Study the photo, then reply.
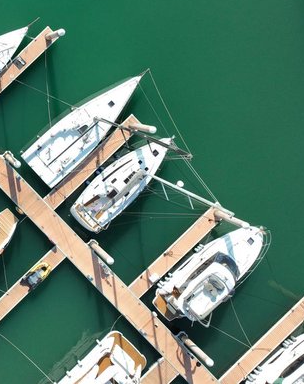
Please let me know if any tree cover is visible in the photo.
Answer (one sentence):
No, the scene doesn't show any tree cover.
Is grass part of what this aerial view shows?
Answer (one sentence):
No, there is no grass in the image.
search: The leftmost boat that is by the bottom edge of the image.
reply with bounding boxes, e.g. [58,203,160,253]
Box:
[50,329,146,384]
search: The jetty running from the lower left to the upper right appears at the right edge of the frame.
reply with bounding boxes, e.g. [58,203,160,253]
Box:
[216,293,304,384]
